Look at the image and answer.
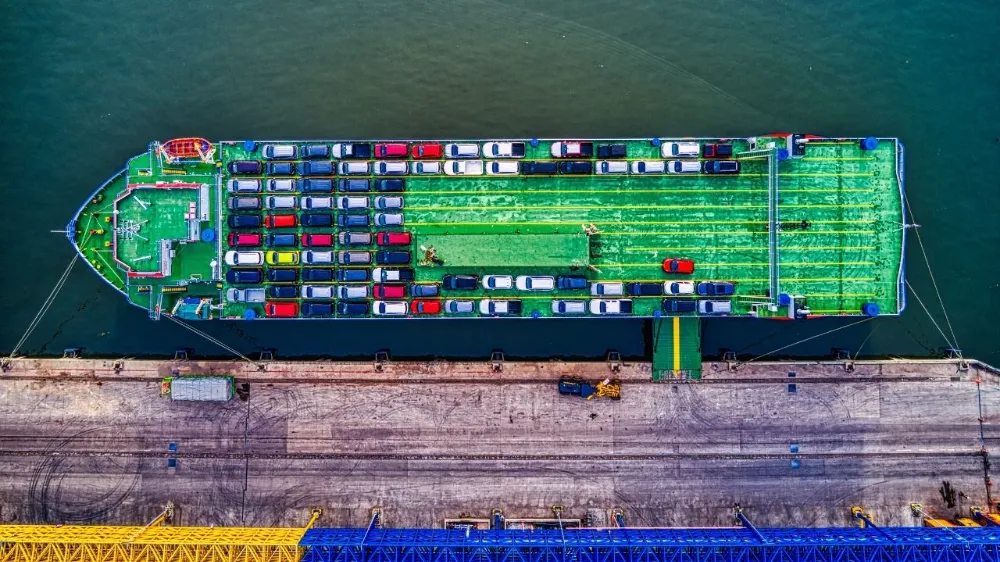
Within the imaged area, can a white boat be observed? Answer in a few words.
No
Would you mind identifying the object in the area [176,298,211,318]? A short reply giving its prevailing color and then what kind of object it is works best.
blue boat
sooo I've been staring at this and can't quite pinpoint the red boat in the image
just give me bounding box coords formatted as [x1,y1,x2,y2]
[162,139,214,159]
